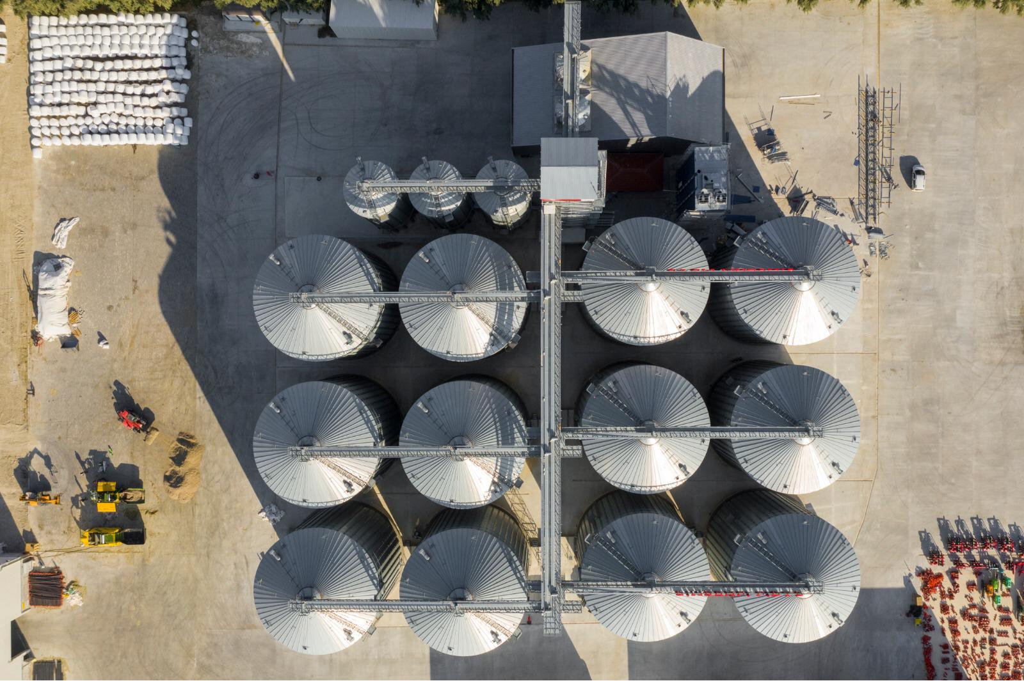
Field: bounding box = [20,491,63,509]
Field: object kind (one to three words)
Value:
work vehicle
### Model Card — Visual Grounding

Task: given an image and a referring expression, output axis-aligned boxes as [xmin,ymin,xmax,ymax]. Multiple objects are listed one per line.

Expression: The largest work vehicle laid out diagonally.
[113,407,159,444]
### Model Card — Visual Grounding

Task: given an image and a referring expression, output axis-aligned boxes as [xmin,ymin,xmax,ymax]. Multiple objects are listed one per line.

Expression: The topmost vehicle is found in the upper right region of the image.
[913,164,928,191]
